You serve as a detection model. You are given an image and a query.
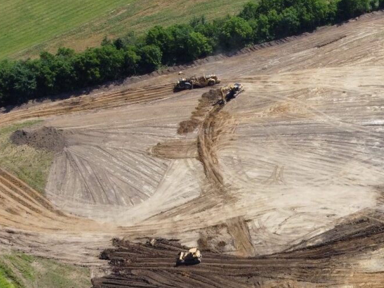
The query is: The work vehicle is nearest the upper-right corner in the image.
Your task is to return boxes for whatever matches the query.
[213,81,246,100]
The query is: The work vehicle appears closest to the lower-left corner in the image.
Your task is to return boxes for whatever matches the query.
[175,246,200,265]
